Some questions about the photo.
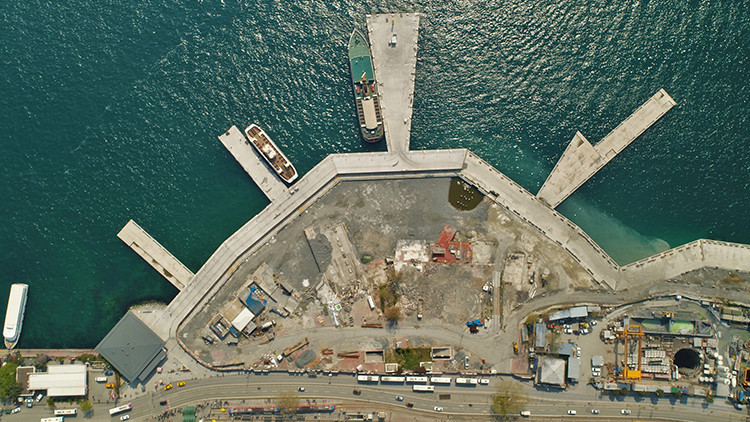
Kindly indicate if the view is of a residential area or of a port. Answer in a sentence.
This image shows a port.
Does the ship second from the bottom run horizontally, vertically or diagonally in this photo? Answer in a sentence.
The ship second from the bottom is oriented diagonally.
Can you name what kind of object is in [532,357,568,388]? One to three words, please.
building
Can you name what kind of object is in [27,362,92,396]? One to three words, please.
building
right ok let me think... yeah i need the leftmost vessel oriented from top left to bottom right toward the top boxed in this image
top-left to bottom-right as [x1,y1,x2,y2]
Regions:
[245,123,300,185]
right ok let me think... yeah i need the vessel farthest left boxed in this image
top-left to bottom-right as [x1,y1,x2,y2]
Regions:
[4,281,31,348]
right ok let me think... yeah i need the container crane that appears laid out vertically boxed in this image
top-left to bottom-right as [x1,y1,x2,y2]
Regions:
[613,316,644,380]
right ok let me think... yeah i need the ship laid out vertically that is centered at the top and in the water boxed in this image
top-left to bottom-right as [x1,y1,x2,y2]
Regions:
[349,29,382,144]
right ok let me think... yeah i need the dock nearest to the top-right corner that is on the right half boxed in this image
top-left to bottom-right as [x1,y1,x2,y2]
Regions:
[536,89,676,209]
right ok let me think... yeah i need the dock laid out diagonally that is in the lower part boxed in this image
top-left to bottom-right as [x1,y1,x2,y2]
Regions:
[116,219,196,290]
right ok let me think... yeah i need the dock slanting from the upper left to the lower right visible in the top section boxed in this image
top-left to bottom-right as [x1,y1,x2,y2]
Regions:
[218,125,289,202]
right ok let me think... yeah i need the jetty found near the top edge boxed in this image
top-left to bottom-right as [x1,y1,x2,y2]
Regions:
[366,12,420,152]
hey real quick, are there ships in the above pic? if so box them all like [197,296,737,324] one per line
[245,123,300,185]
[4,281,31,348]
[349,29,382,144]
